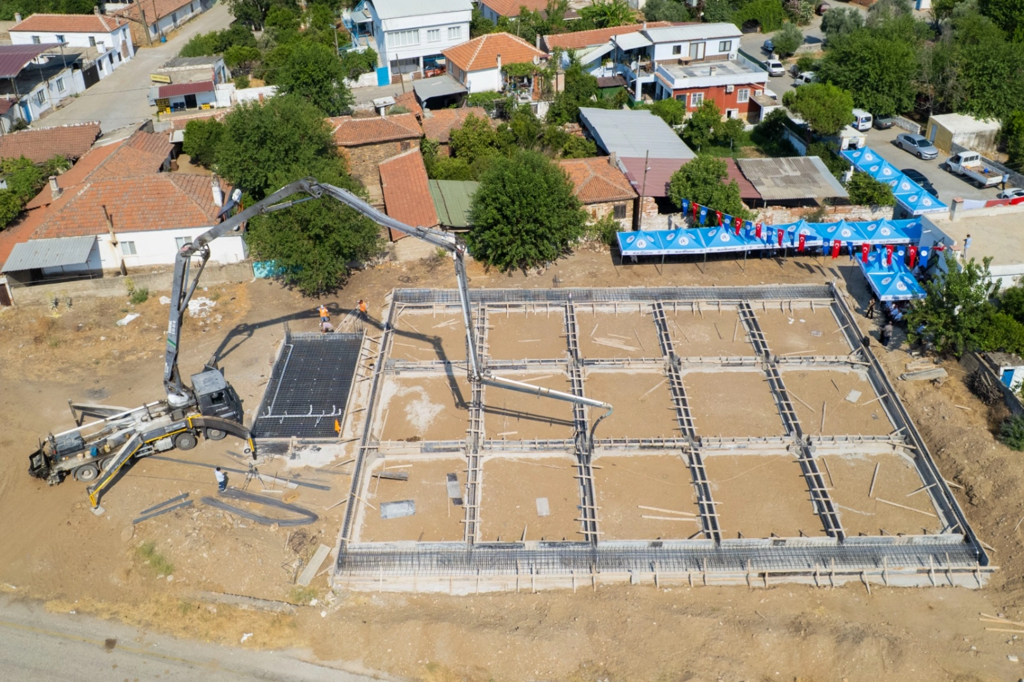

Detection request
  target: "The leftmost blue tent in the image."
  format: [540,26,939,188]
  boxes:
[613,227,664,278]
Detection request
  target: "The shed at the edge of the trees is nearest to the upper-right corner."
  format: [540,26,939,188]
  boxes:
[927,105,1008,154]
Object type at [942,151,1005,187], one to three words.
truck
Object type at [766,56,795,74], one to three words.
car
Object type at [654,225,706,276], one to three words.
tent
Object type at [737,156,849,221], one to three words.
shed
